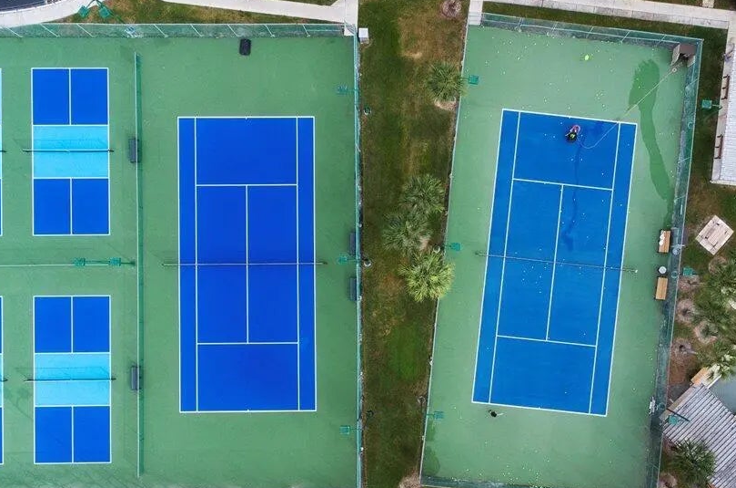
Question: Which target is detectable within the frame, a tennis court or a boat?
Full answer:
The image shows a tennis court.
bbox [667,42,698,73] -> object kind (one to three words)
shed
